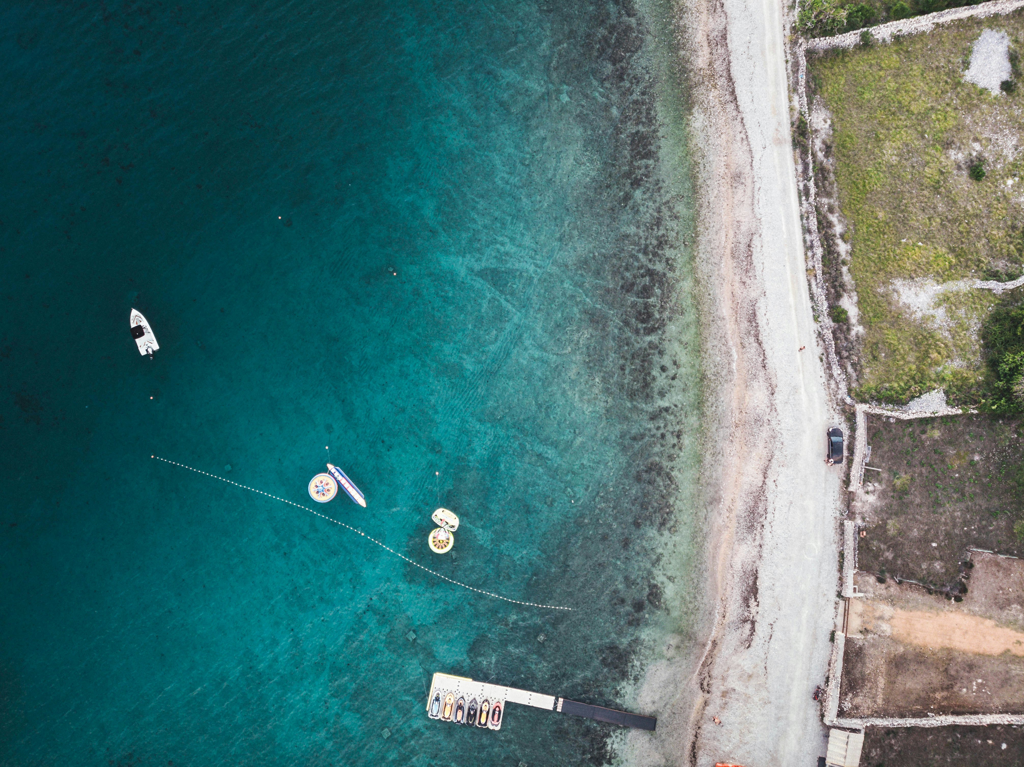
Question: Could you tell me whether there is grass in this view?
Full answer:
Yes, some grass is visible.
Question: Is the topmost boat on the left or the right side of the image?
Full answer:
It is on the left.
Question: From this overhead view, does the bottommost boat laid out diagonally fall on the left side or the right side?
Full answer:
The bottommost boat laid out diagonally is on the left side of the image.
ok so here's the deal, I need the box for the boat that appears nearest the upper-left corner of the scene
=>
[129,308,160,359]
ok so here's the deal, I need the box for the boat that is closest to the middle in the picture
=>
[327,464,367,507]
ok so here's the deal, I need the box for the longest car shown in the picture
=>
[826,427,846,464]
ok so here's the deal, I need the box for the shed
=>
[815,720,864,767]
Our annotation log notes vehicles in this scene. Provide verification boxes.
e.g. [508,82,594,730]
[826,427,846,464]
[812,684,822,703]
